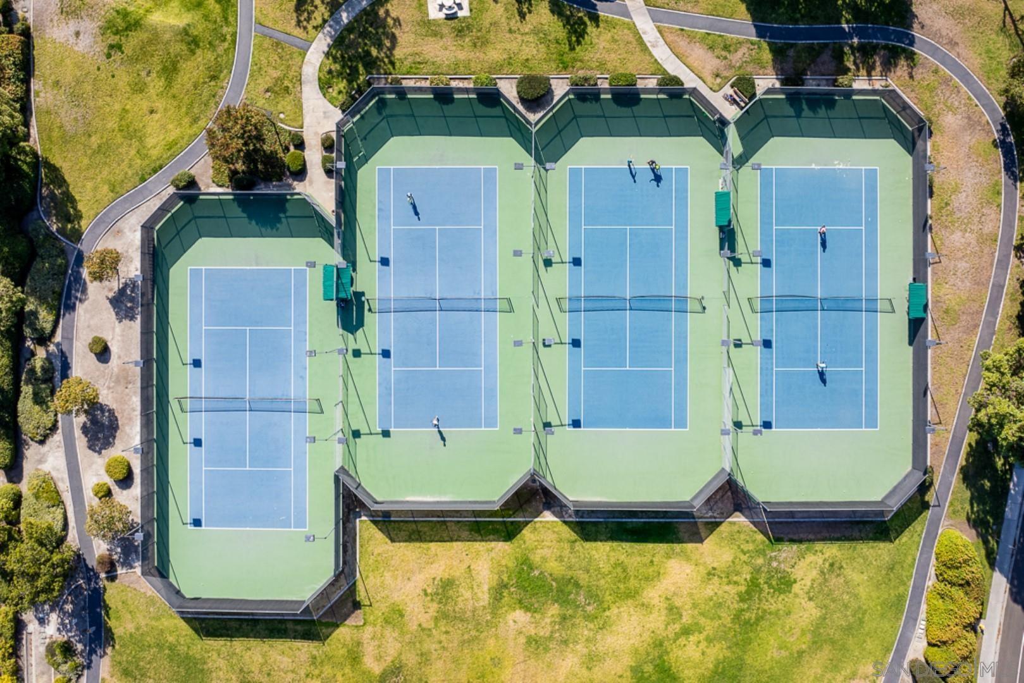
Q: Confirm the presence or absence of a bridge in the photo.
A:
No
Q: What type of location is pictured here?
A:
sports ground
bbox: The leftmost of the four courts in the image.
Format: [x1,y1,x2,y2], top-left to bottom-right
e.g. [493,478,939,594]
[154,198,342,602]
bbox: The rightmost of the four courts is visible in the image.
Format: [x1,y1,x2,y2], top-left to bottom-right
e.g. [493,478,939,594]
[723,97,912,505]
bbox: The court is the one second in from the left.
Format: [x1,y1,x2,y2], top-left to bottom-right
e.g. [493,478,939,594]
[342,97,533,503]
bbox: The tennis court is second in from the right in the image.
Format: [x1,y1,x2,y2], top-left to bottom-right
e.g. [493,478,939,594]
[533,97,723,503]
